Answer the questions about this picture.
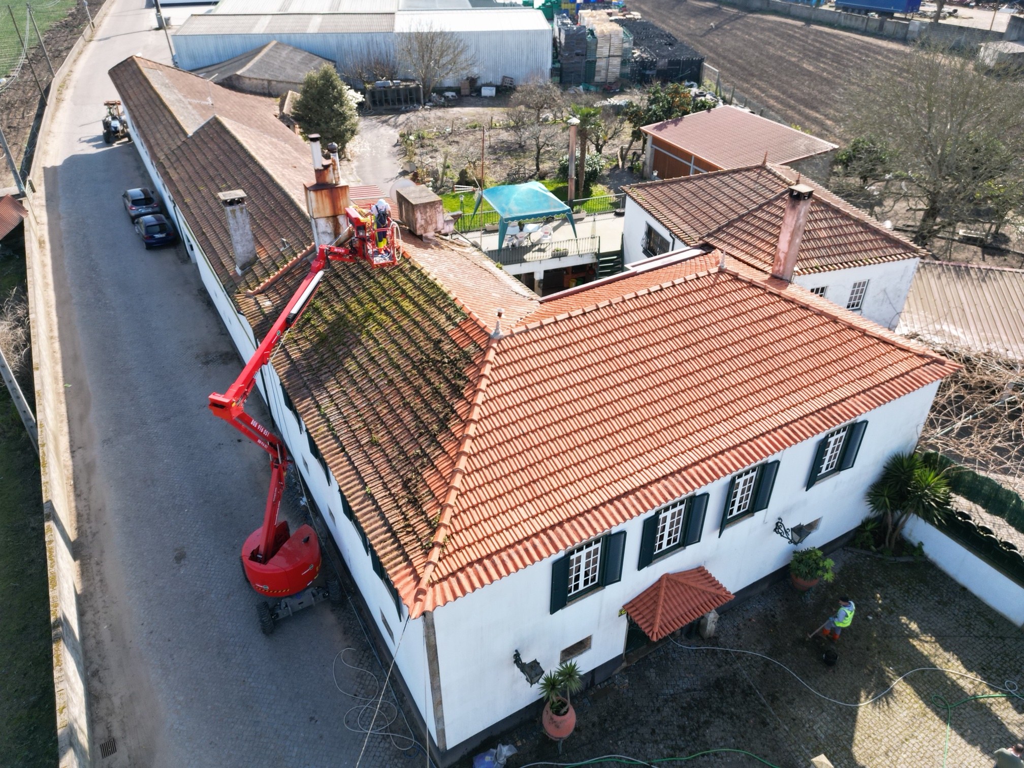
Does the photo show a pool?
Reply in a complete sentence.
No, there appears to be no pool in this shot.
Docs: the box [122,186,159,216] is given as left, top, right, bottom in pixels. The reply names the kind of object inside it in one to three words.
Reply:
car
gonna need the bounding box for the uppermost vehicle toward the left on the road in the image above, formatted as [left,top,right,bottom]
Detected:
[102,105,127,143]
